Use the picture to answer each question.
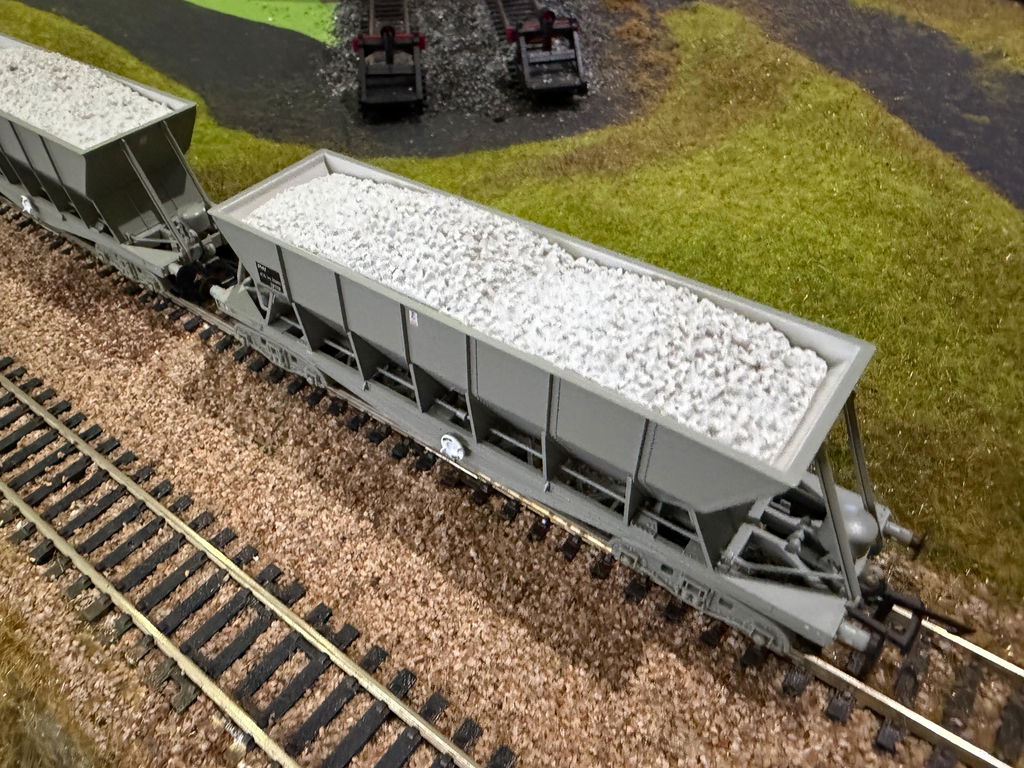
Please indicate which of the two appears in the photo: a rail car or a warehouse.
rail car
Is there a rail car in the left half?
Yes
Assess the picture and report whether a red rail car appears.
No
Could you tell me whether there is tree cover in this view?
No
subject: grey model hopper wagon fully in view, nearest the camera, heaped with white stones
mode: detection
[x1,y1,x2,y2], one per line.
[207,151,980,669]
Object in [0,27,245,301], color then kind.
gray rail car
